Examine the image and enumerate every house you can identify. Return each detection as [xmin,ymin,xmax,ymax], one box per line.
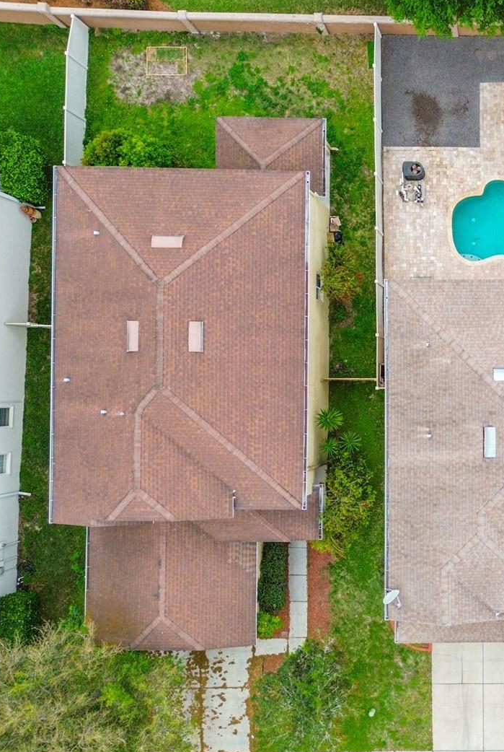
[384,277,504,644]
[0,205,45,613]
[50,116,344,658]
